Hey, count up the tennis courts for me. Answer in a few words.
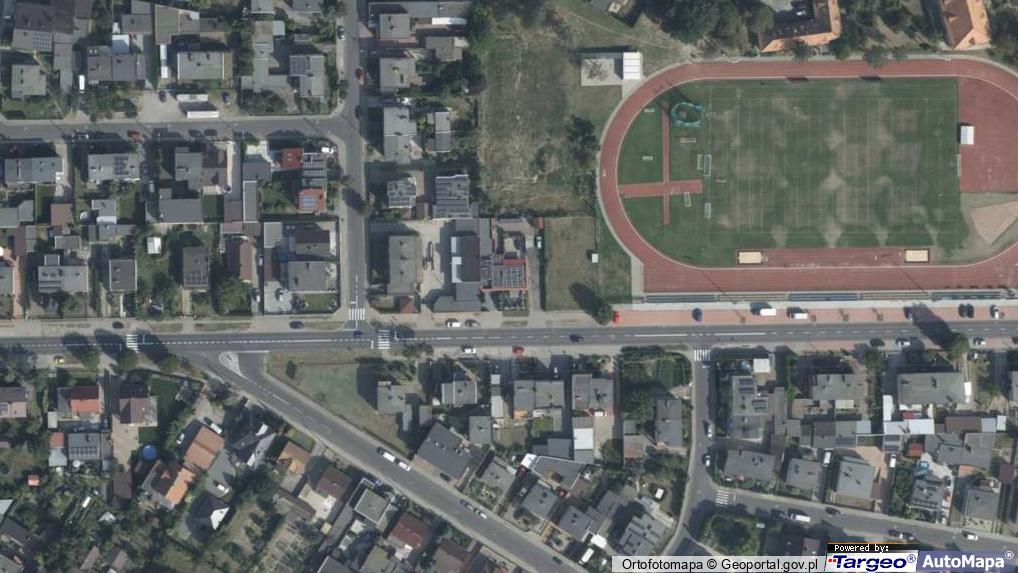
0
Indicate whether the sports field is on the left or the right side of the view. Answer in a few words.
right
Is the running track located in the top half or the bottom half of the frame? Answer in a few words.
top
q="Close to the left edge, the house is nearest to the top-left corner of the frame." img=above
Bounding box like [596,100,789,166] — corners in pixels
[11,3,54,51]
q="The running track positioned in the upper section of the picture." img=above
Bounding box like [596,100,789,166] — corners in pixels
[597,57,1018,293]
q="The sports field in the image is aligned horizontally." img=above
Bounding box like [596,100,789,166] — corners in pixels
[618,78,1018,267]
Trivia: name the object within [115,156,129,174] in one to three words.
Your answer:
solar array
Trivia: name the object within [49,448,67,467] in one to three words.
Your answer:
shed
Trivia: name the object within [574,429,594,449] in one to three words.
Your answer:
building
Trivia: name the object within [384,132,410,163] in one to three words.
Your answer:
house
